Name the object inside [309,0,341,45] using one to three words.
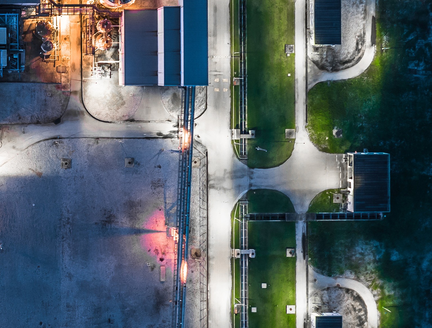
shed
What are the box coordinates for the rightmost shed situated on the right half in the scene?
[346,153,391,212]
